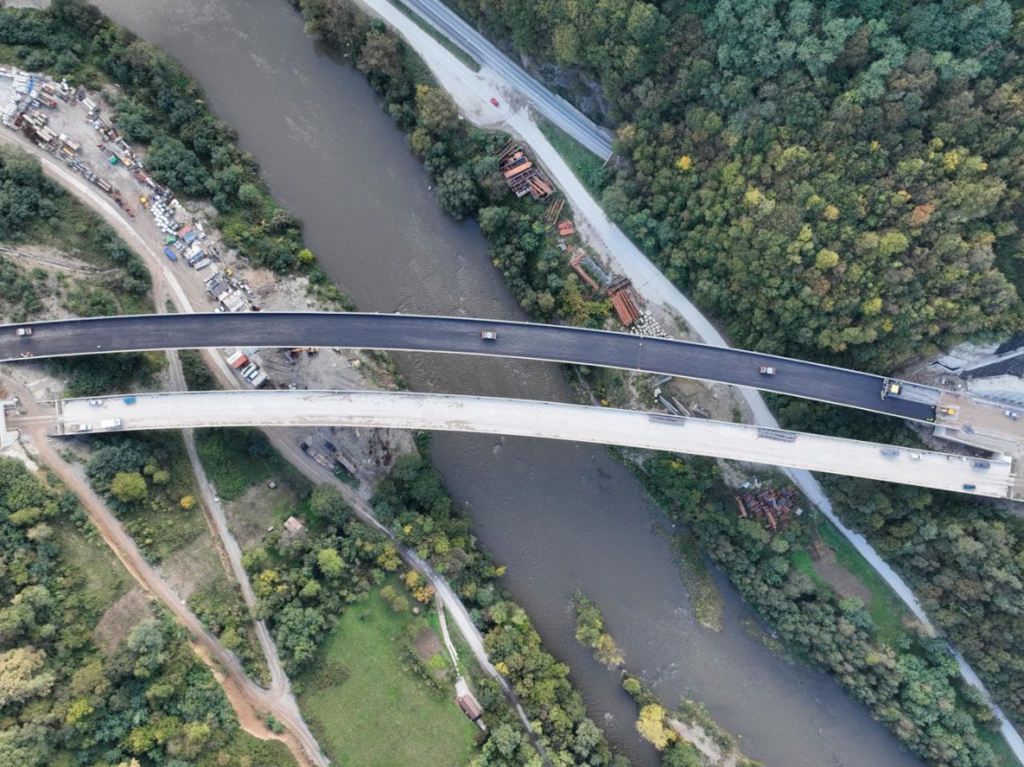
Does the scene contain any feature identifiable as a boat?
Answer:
No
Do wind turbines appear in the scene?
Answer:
No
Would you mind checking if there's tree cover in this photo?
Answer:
Yes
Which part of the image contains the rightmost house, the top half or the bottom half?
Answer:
bottom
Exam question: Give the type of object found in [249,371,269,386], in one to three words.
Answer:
vehicle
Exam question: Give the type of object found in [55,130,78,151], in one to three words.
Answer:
truck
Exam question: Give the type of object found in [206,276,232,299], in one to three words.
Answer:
shed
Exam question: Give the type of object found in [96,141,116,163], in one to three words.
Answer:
vehicle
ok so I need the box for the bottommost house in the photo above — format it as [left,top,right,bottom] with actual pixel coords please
[456,692,485,723]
